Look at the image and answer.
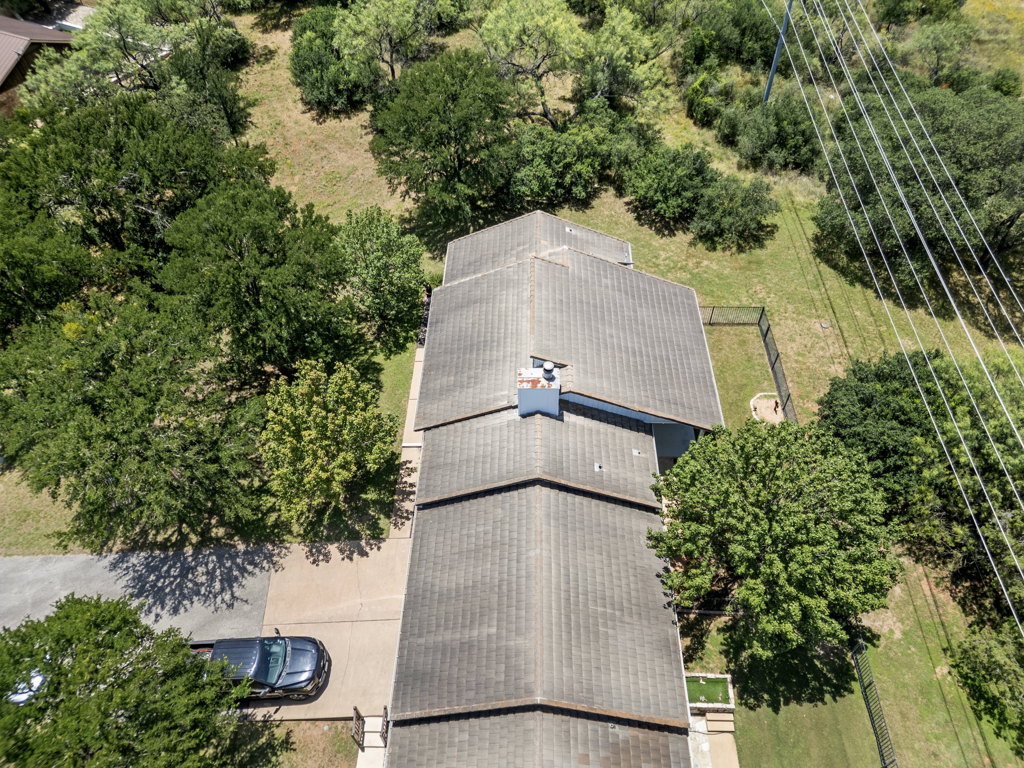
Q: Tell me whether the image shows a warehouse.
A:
No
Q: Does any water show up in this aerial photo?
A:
No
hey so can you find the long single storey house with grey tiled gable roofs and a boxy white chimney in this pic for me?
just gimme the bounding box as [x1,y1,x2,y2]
[386,208,727,768]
